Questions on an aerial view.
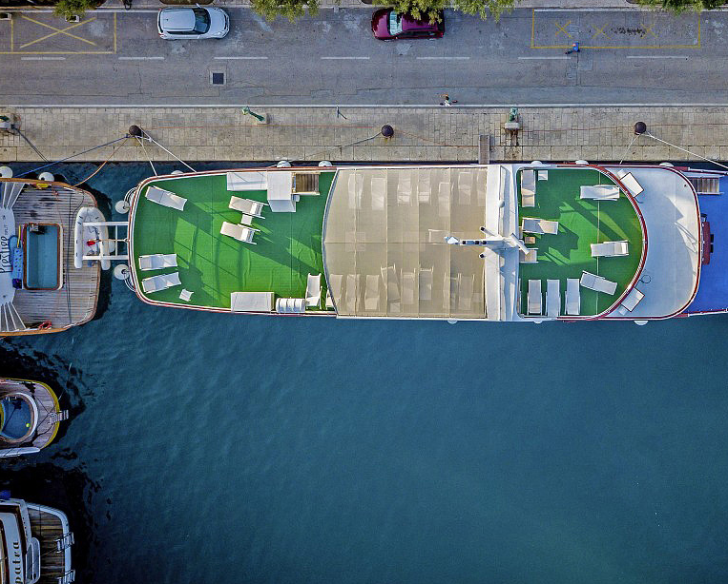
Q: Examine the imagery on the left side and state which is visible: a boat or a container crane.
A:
boat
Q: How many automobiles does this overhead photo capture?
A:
2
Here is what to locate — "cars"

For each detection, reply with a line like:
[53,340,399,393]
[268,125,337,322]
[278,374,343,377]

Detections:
[374,8,444,41]
[158,2,231,40]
